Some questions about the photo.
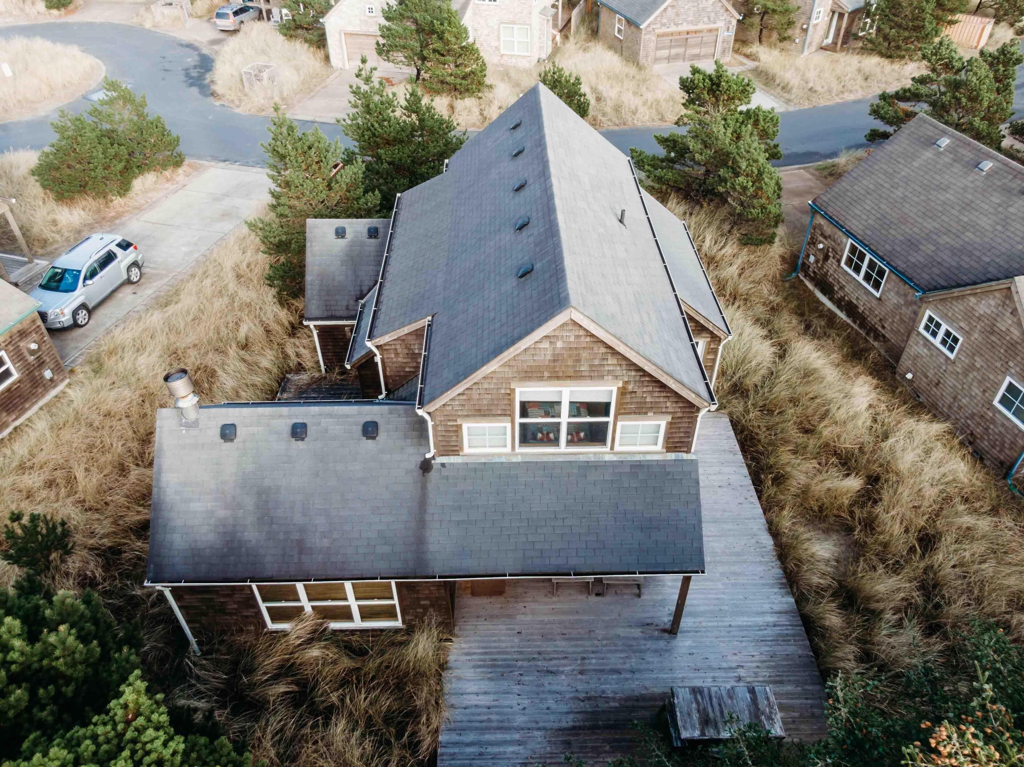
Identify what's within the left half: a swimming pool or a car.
car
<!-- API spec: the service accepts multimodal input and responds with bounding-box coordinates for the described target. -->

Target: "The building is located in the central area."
[141,82,734,640]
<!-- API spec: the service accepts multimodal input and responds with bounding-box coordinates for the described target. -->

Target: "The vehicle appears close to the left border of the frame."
[29,227,148,334]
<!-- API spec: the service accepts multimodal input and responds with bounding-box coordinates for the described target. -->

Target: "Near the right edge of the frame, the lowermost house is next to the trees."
[785,106,1024,498]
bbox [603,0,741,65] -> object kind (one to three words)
building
